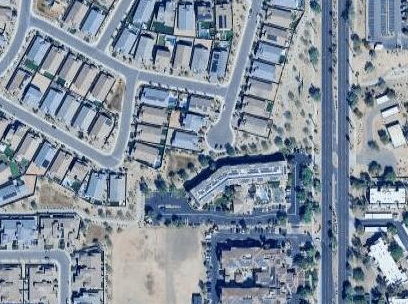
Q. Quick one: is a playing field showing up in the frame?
No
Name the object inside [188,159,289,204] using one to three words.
building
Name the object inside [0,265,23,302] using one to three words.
house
